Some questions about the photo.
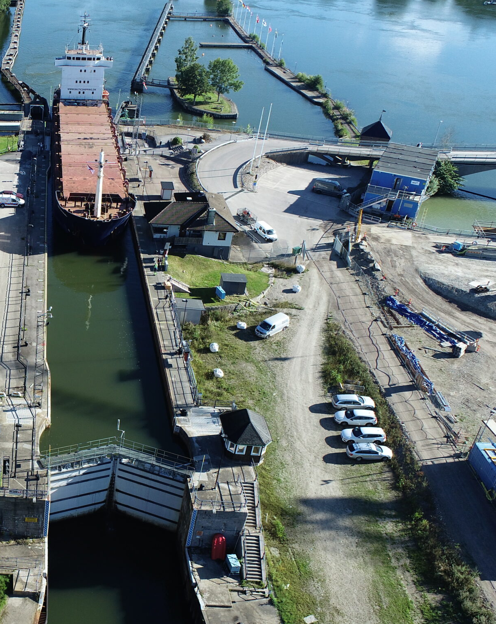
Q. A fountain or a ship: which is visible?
ship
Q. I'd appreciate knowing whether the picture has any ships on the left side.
Yes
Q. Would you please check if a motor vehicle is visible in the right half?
Yes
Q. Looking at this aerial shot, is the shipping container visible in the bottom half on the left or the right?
right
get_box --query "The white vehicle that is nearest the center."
[256,306,296,333]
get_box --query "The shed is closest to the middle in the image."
[218,270,253,297]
